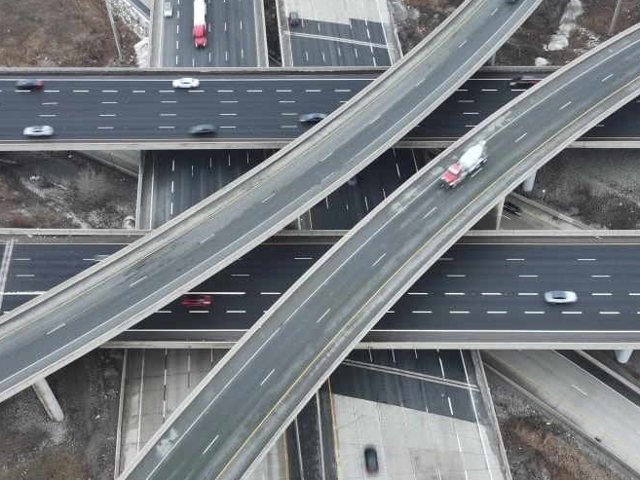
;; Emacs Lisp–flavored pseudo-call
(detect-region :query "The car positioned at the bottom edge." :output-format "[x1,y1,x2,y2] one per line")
[363,444,380,477]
